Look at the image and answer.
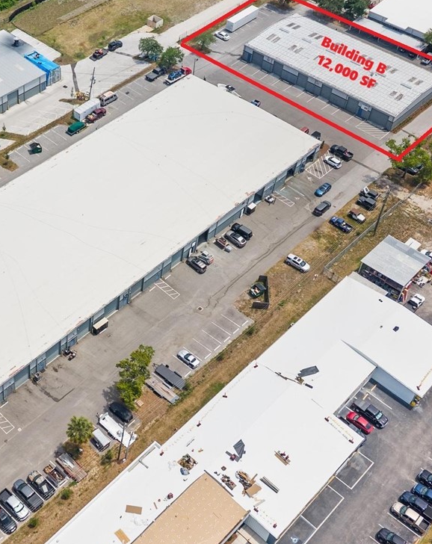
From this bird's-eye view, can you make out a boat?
Yes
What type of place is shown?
industrial area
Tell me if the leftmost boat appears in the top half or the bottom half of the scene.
top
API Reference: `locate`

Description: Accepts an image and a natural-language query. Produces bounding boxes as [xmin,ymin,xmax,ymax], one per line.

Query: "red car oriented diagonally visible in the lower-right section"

[343,411,372,434]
